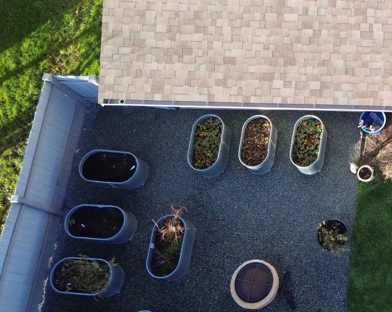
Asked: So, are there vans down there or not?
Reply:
No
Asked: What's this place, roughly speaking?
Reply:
industrial area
